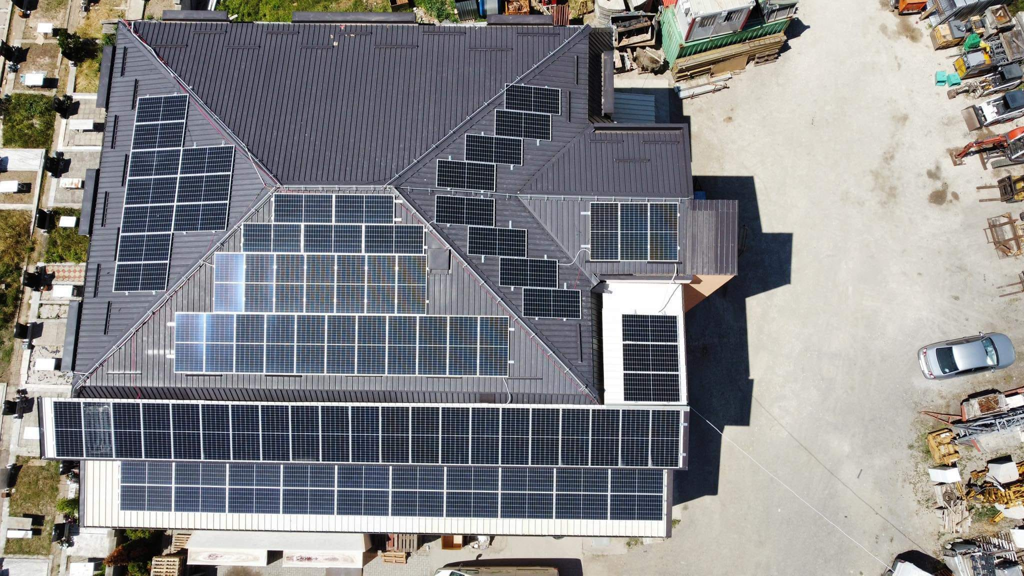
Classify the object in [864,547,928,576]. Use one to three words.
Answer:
van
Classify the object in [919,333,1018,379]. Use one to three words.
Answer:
car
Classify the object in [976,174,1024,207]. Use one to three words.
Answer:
work vehicle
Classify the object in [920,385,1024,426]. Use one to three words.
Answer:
trailer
